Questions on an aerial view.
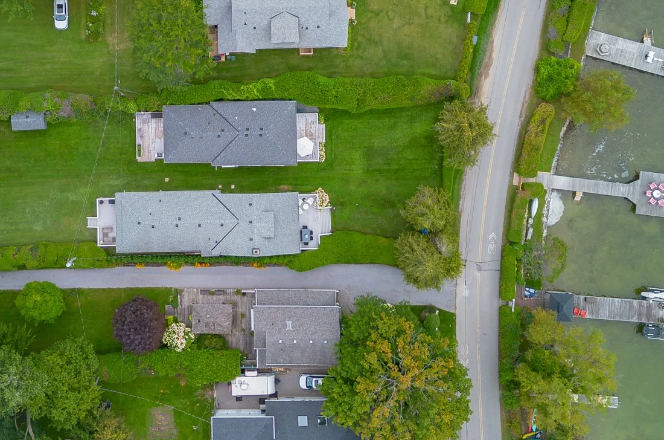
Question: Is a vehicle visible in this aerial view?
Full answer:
Yes, a vehicle can be made out from above.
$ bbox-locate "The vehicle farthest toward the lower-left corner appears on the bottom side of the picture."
[231,374,281,400]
